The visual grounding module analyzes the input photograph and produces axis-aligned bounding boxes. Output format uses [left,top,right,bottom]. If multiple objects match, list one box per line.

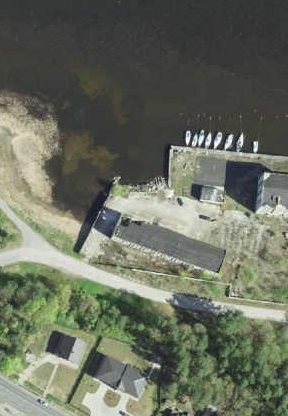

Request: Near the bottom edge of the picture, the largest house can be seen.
[86,351,146,398]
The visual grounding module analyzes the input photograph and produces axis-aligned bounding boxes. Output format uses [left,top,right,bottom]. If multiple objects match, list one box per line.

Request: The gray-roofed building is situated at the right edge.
[252,171,288,219]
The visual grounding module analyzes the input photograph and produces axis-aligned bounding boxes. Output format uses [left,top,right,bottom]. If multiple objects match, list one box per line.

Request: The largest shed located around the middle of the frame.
[111,220,226,276]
